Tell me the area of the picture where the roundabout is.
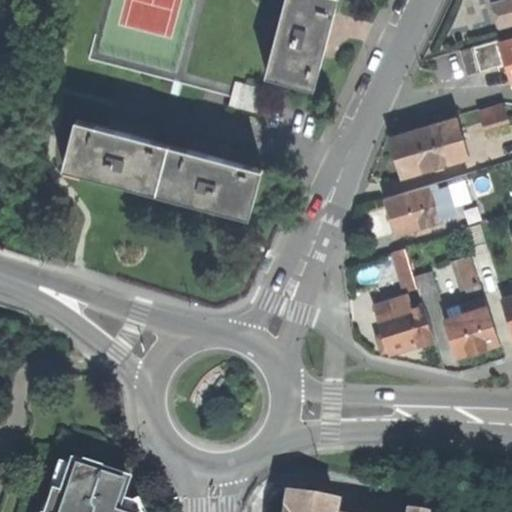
bottom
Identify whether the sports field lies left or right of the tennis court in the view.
to its right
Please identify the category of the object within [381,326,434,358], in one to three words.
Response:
house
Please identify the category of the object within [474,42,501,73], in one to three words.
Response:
building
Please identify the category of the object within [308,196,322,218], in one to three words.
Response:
car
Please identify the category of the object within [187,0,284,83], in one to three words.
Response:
sports field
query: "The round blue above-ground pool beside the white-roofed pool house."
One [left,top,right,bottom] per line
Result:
[470,172,496,198]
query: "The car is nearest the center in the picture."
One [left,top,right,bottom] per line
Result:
[272,268,285,290]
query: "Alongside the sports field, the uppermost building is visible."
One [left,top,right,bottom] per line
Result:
[264,0,338,96]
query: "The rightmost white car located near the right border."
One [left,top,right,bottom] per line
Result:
[483,267,496,291]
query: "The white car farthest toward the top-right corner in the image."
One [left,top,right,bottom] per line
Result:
[449,54,464,80]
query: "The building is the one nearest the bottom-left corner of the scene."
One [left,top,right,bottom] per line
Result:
[42,456,144,512]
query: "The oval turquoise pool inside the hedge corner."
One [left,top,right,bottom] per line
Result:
[356,266,382,284]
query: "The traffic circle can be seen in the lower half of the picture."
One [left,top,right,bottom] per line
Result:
[144,326,290,472]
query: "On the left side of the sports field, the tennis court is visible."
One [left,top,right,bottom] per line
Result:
[100,0,191,73]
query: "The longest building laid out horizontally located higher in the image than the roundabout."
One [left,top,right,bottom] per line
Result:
[60,124,262,222]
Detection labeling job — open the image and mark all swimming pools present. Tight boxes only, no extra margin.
[356,266,382,284]
[470,172,496,198]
